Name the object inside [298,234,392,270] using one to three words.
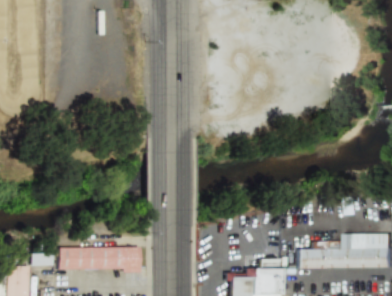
building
